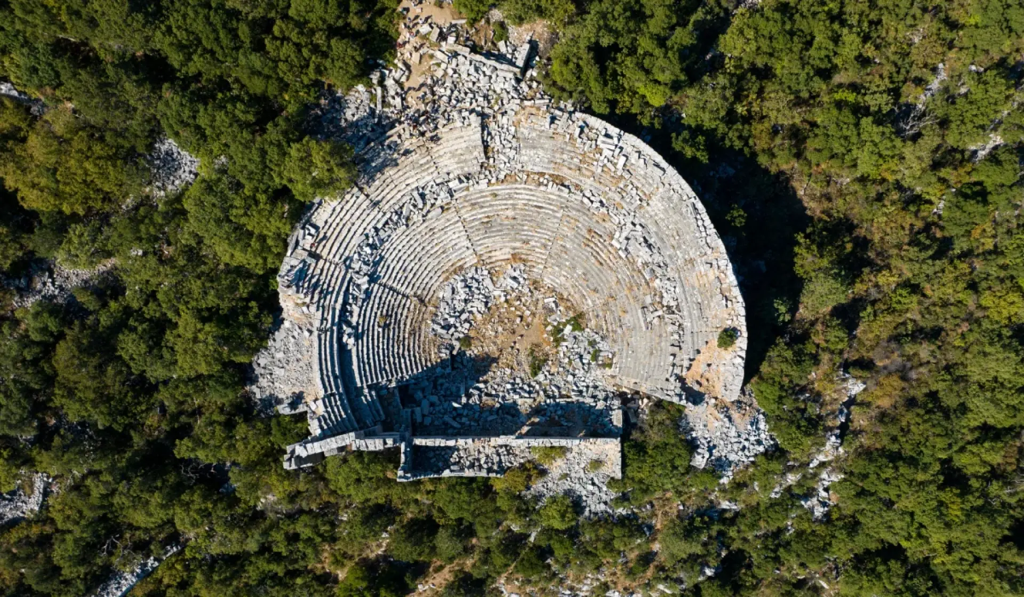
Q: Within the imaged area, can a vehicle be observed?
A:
No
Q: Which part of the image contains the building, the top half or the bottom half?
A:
bottom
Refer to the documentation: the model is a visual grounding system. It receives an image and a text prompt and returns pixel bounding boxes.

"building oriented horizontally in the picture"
[397,396,622,481]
